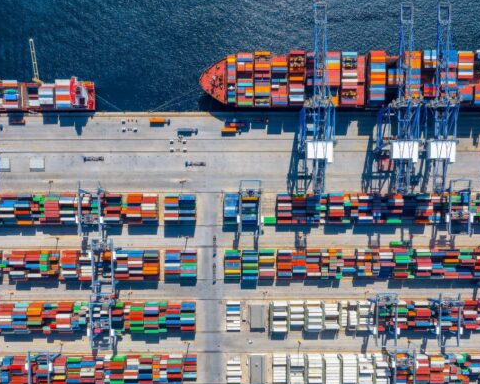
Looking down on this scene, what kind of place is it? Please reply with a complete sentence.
It's a port.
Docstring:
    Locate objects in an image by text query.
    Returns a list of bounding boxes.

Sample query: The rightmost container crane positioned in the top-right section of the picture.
[404,2,466,195]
